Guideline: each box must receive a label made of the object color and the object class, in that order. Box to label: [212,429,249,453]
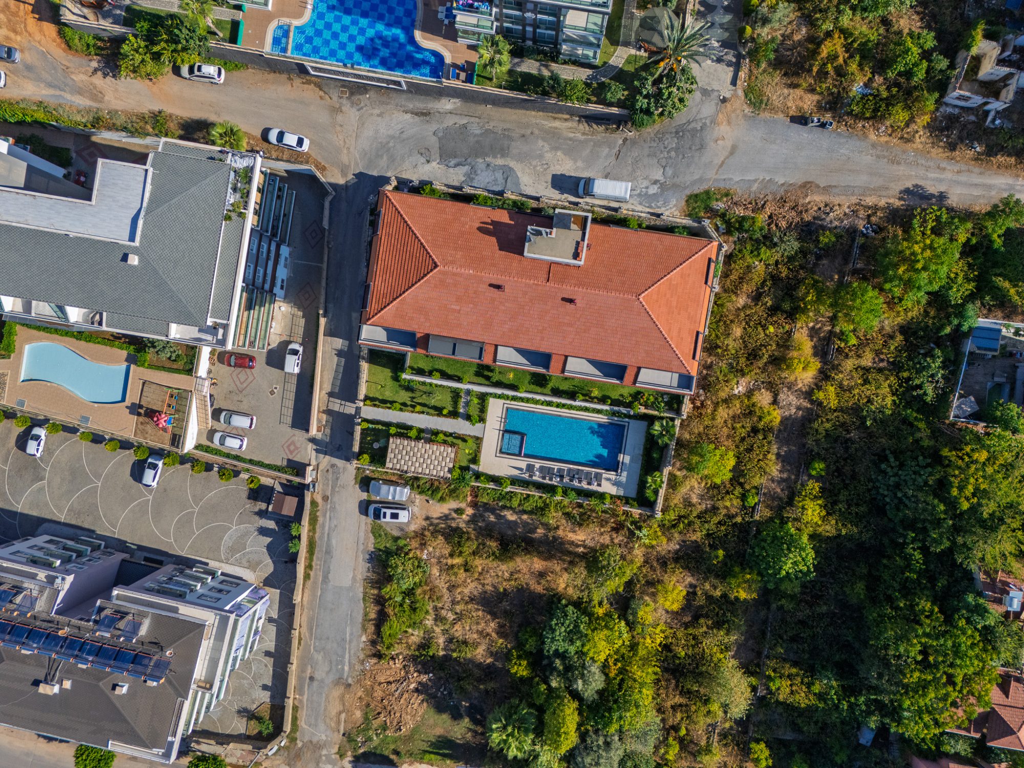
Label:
white car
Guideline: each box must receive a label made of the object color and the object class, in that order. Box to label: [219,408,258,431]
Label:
white car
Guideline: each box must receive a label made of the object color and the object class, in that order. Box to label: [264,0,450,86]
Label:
blue swimming pool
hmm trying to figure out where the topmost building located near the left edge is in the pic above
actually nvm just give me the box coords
[0,137,307,354]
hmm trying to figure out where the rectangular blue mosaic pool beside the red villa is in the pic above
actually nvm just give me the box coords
[492,402,631,477]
